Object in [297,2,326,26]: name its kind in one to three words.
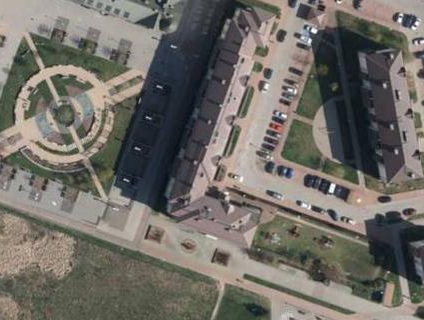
building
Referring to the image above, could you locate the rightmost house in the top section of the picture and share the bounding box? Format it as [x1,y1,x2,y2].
[356,50,423,182]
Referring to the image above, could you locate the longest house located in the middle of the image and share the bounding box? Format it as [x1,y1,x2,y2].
[162,7,278,248]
